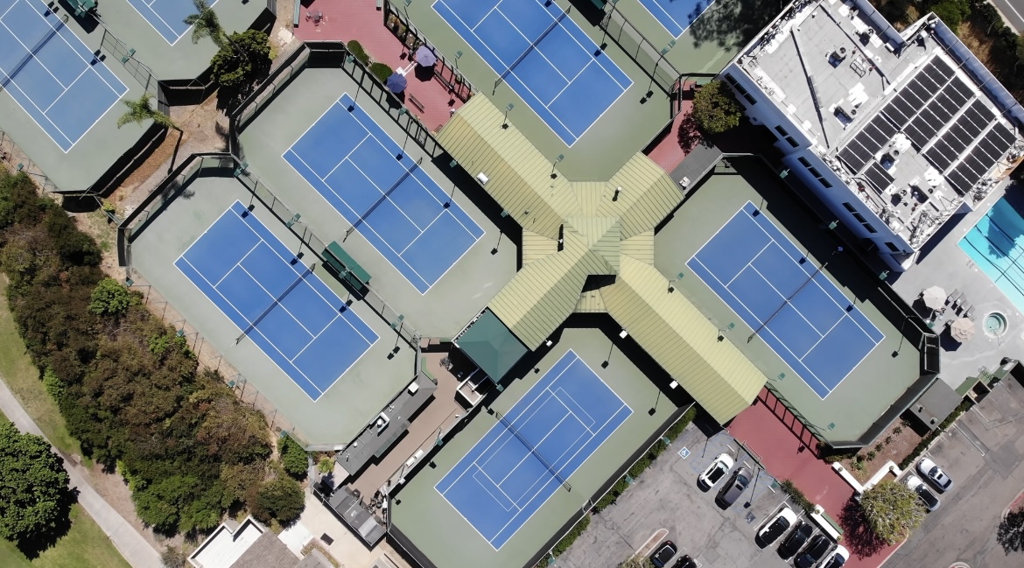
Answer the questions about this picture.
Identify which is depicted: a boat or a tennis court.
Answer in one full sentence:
It is a tennis court that can be seen here.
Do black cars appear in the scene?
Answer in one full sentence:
Yes, there is a black car in the image.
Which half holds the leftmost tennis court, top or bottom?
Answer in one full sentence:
You can find the leftmost tennis court in the top half.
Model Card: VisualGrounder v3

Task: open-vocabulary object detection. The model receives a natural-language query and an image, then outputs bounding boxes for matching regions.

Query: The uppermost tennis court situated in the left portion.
[85,0,275,87]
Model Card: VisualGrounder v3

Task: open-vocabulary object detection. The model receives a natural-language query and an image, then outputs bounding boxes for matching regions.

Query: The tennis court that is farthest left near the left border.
[0,0,169,193]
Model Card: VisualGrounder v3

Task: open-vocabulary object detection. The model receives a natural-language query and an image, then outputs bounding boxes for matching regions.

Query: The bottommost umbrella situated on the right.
[949,317,972,340]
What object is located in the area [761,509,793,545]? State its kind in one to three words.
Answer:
car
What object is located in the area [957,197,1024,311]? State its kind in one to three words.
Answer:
swimming pool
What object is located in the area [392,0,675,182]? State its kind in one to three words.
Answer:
tennis court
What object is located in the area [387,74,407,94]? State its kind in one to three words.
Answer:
umbrella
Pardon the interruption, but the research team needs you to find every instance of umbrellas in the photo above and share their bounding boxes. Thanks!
[387,74,407,94]
[921,286,945,309]
[949,317,972,340]
[416,47,437,68]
